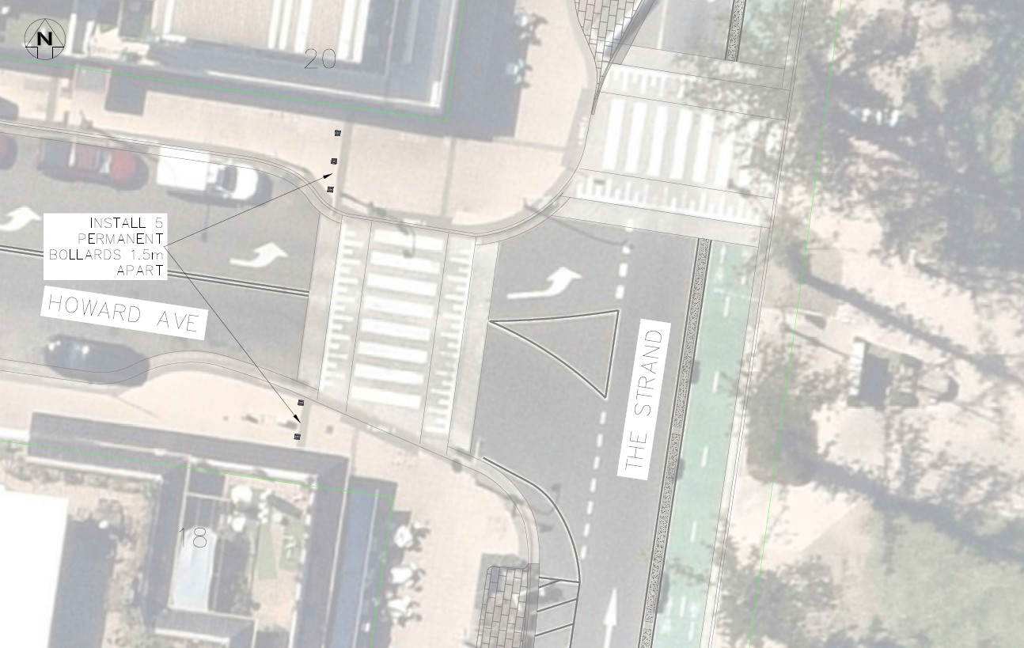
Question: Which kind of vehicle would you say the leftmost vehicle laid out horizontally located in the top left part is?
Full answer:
The leftmost vehicle laid out horizontally located in the top left part in the image is a truck.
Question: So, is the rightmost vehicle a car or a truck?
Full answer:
Looking closely, the rightmost vehicle is a truck.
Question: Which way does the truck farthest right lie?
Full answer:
I'd say the truck farthest right is aligned horizontally in the picture.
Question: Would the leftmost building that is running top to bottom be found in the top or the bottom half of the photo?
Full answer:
The leftmost building that is running top to bottom is in the bottom half of the image.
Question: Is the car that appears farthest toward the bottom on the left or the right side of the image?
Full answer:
The car that appears farthest toward the bottom sits on the left side.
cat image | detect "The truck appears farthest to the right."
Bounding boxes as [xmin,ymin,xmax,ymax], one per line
[153,146,260,196]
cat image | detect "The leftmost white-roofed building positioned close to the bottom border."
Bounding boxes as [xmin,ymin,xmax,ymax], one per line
[0,489,71,648]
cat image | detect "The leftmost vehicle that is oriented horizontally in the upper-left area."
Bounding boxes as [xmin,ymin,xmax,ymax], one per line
[36,134,137,183]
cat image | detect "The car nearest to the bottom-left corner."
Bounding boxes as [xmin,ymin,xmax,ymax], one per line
[43,334,134,380]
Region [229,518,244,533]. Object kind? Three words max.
umbrella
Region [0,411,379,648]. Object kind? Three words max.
building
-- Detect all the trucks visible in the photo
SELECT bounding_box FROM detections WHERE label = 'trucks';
[153,146,260,196]
[36,134,137,183]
